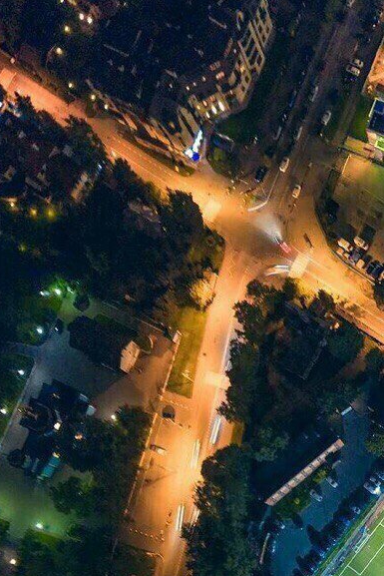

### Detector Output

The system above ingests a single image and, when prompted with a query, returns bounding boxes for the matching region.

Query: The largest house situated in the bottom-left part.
[7,374,95,479]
